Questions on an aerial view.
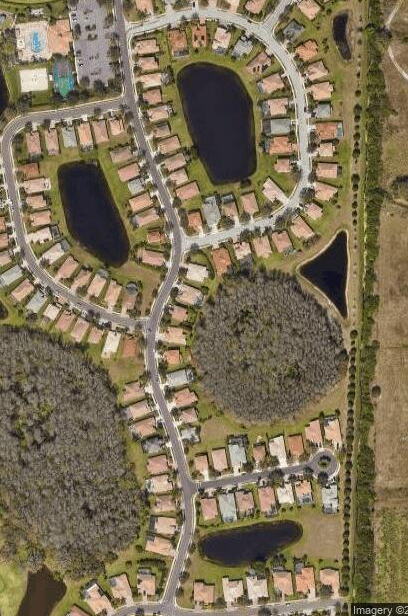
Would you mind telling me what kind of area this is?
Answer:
residential area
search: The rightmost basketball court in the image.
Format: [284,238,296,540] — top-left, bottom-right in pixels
[54,61,74,95]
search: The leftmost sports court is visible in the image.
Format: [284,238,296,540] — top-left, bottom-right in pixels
[20,69,49,93]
